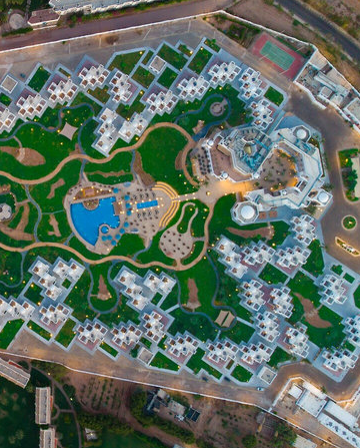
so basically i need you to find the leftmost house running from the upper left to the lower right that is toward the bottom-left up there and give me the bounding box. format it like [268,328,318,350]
[0,357,30,387]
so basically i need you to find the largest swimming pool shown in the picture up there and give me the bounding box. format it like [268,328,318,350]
[70,195,121,246]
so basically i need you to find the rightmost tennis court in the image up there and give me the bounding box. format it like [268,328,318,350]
[251,33,304,79]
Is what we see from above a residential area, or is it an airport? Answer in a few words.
residential area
